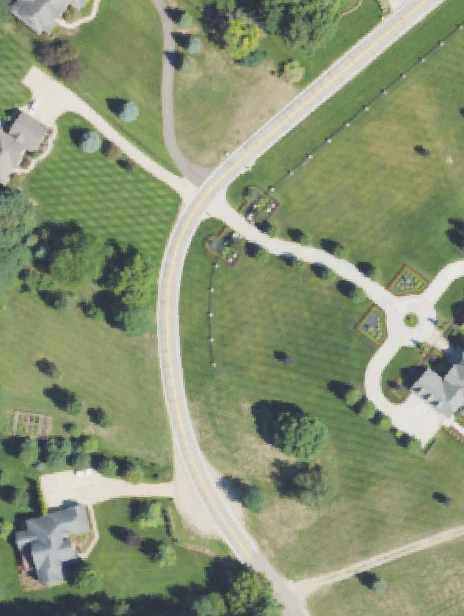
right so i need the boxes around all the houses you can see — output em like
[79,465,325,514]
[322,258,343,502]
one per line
[410,345,464,419]
[14,506,91,585]
[0,109,49,193]
[5,0,87,40]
